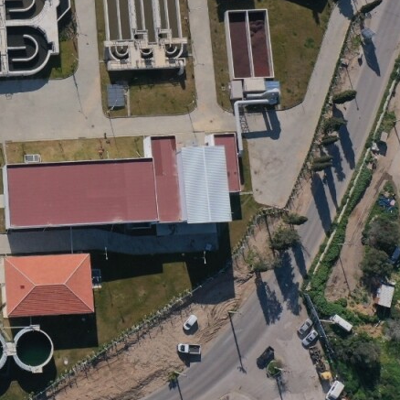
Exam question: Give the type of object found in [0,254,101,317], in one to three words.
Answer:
building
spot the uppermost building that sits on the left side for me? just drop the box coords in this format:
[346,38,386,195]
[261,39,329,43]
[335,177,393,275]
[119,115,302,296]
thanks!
[2,134,241,254]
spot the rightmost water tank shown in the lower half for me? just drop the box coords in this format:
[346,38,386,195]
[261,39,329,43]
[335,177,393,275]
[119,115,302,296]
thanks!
[9,325,54,374]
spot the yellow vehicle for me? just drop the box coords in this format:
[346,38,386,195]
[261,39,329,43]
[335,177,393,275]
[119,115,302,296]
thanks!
[318,369,336,383]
